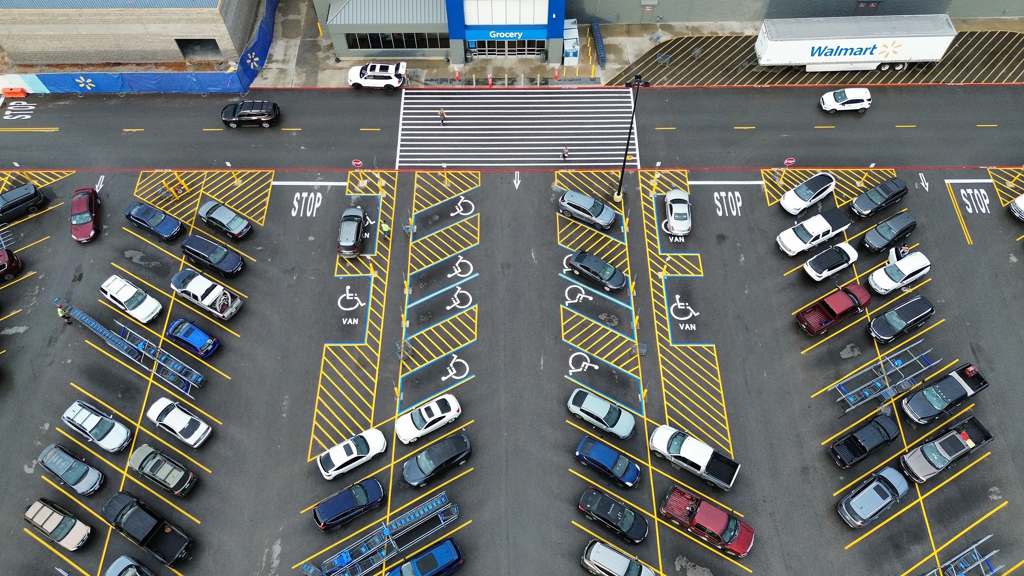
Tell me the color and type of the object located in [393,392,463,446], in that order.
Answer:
white car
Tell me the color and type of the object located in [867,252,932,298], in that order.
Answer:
white car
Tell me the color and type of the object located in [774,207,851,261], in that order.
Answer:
white truck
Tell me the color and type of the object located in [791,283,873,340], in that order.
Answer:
red truck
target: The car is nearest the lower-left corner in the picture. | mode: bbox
[22,495,99,555]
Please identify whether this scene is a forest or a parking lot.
parking lot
